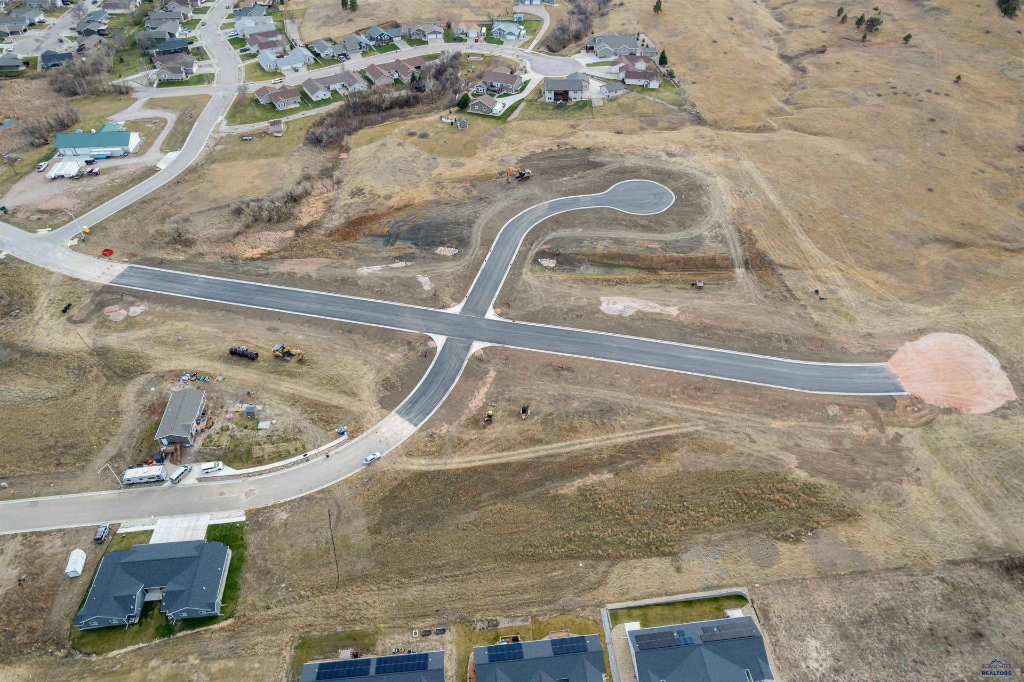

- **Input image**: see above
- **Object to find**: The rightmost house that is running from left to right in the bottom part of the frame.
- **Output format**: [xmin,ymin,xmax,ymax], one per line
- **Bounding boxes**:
[627,615,780,682]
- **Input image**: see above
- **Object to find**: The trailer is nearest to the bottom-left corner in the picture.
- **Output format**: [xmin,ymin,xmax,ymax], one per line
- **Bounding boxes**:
[60,542,88,576]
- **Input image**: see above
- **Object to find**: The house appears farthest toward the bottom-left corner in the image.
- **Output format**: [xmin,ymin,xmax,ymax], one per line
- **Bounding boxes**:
[75,538,235,630]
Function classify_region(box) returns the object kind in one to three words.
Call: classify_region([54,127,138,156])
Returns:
barn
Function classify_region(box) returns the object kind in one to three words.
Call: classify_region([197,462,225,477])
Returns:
vehicle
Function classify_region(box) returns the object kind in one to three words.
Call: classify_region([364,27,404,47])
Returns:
house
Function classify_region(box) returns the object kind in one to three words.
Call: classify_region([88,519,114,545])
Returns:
car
